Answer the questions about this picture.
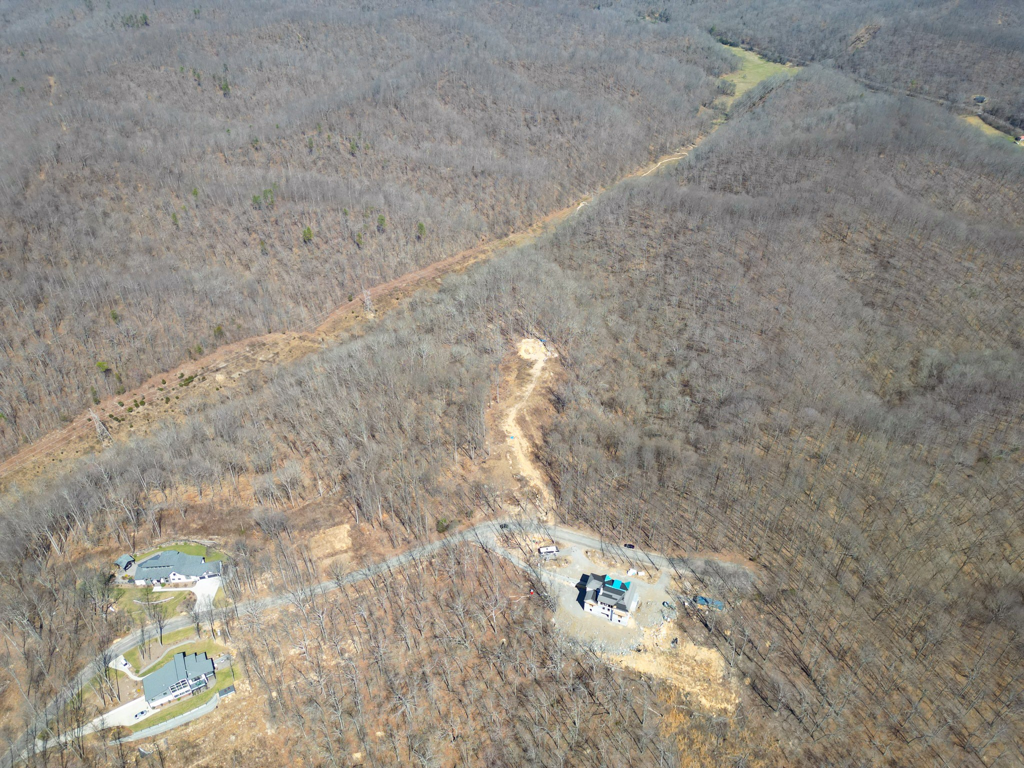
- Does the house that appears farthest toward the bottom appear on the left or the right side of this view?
left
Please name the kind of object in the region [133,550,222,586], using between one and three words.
house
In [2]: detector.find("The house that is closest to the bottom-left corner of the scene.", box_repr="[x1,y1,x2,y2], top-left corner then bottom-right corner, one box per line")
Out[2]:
[144,654,218,714]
